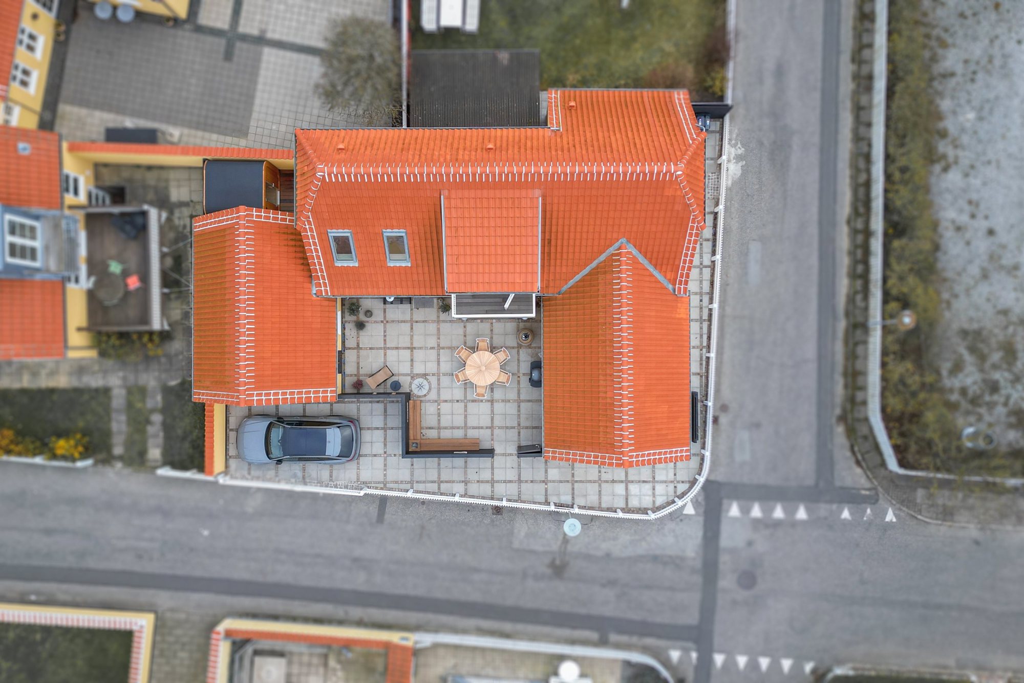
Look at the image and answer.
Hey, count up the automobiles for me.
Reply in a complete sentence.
The picture shows 1 automobile.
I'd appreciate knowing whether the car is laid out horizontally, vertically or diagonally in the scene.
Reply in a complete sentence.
In this picture, the car is oriented horizontally.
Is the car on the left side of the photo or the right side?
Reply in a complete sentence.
The car appears in the left half of the scene.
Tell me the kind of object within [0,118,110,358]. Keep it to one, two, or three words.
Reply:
house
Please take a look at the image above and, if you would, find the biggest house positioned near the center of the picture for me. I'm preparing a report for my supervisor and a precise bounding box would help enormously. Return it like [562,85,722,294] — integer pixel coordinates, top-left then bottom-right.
[291,87,711,471]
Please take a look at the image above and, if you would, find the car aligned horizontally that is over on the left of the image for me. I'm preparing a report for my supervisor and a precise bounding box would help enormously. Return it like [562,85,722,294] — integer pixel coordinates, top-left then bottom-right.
[238,411,364,471]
